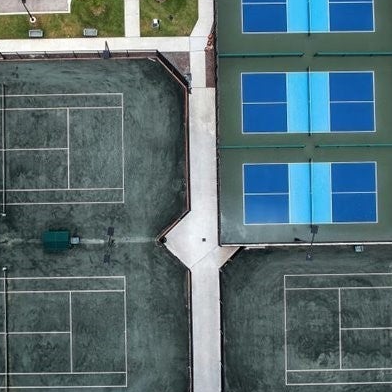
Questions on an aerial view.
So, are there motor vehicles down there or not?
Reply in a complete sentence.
No, the picture doesn't show any motor vehicle.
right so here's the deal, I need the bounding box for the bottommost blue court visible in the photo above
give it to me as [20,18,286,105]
[243,162,378,225]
